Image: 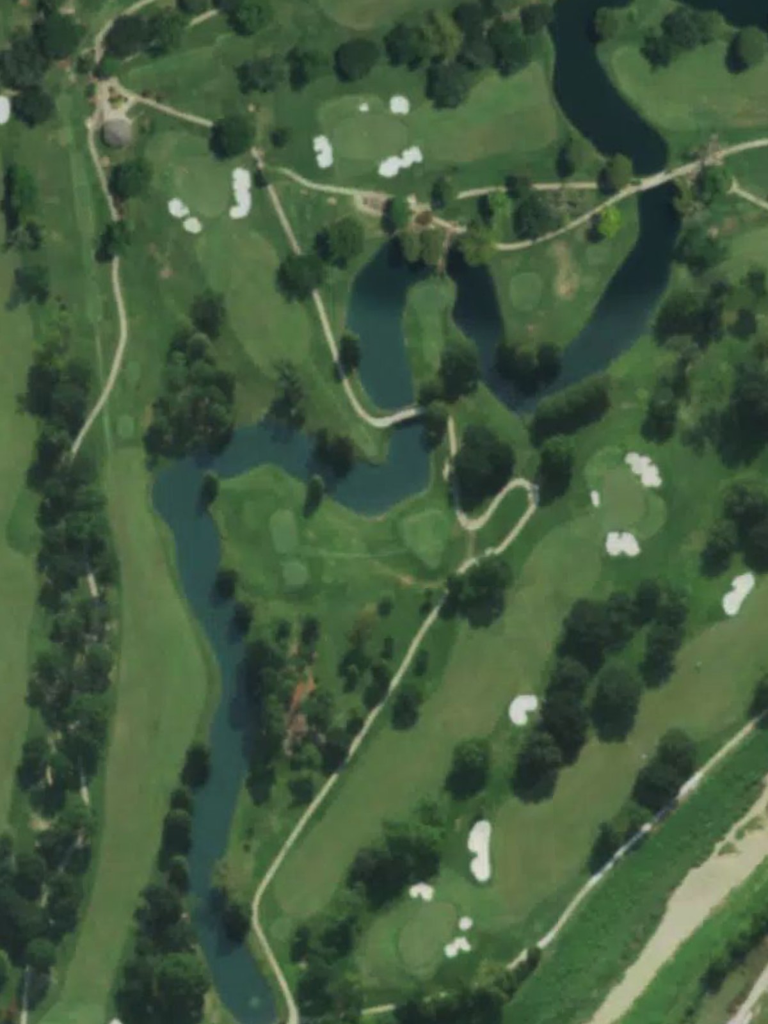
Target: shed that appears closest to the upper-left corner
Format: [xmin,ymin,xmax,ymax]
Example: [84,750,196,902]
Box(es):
[102,116,132,147]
